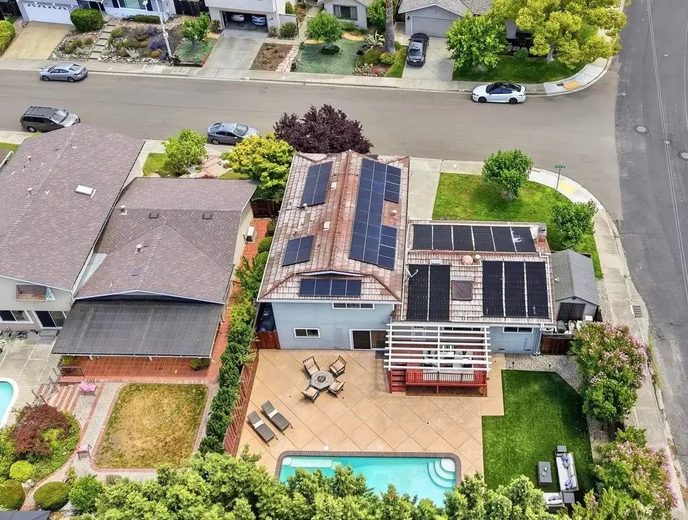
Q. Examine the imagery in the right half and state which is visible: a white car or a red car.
white car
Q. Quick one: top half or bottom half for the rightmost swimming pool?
bottom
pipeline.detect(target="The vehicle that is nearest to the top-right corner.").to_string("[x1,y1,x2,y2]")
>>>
[471,80,527,104]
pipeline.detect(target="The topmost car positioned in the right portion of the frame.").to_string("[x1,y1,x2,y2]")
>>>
[405,30,429,62]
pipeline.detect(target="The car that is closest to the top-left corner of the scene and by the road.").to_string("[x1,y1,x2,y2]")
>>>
[32,59,90,83]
